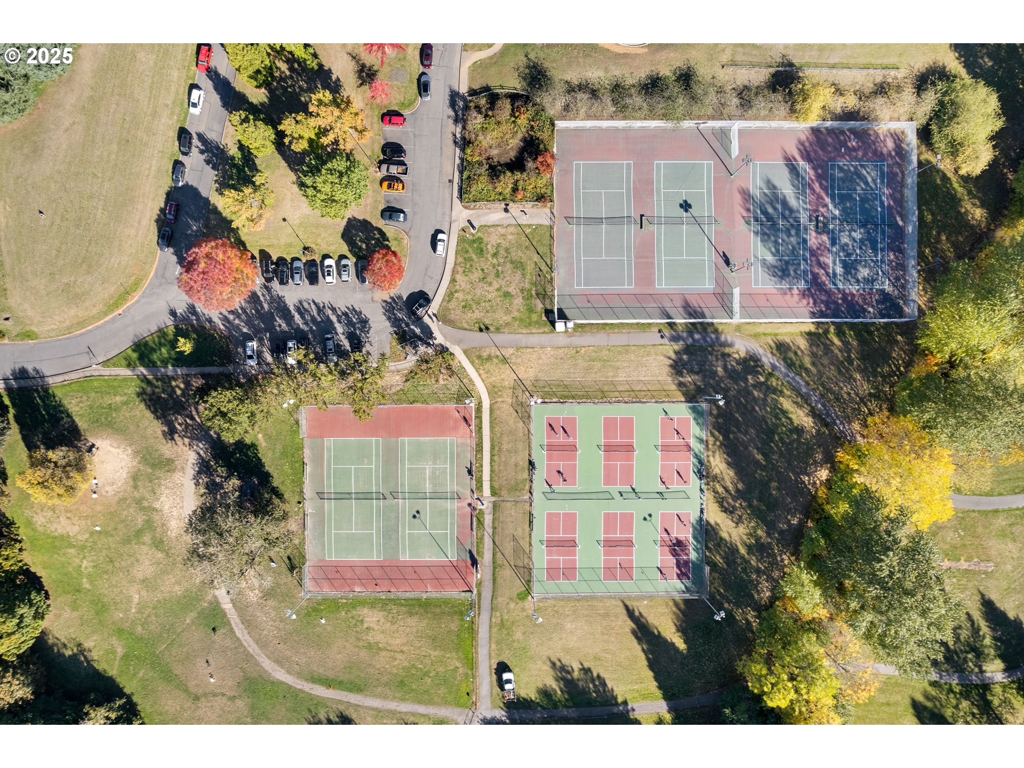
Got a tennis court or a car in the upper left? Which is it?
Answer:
car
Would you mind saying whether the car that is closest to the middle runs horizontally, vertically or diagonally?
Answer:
diagonally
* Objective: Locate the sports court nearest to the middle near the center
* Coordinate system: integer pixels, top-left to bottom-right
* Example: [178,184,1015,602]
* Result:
[542,416,581,486]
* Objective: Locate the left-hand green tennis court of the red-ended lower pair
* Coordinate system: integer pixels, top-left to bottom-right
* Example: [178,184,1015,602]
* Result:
[325,438,382,560]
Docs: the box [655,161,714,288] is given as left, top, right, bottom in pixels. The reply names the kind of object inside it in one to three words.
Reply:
tennis court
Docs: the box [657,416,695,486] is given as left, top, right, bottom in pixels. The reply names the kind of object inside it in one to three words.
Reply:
sports court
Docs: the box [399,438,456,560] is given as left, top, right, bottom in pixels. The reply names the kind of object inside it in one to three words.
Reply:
tennis court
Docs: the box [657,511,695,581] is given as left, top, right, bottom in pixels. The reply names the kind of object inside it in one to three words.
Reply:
sports court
